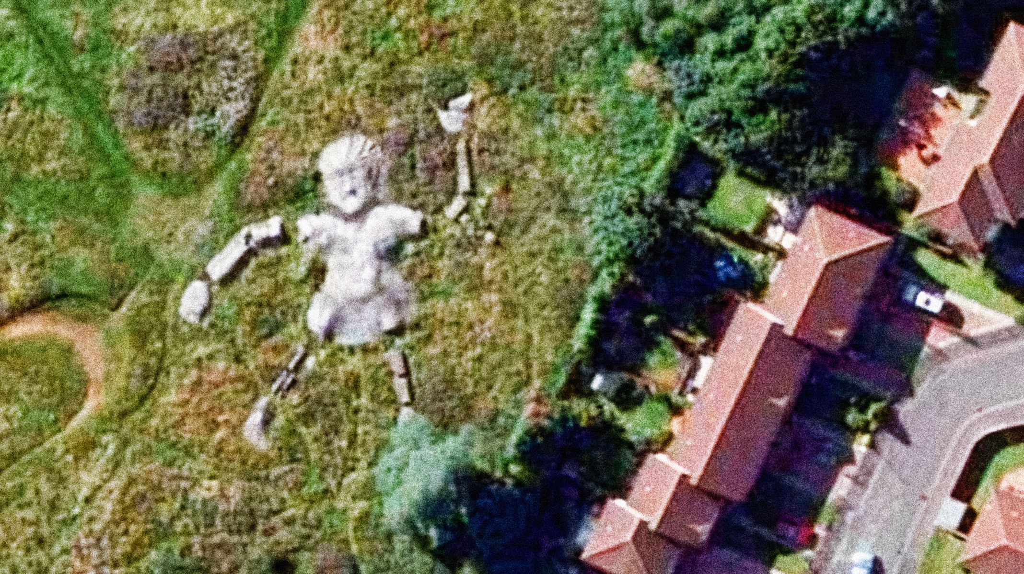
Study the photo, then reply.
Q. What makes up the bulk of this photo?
grass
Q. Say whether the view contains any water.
No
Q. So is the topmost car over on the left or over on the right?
right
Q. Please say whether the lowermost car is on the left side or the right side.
right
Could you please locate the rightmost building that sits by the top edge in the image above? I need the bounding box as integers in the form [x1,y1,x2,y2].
[952,21,1024,181]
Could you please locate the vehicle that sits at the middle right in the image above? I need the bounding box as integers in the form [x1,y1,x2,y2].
[900,282,948,318]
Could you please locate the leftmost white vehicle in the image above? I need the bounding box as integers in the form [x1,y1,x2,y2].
[850,549,876,574]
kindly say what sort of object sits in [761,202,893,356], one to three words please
house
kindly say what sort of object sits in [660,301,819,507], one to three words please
house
